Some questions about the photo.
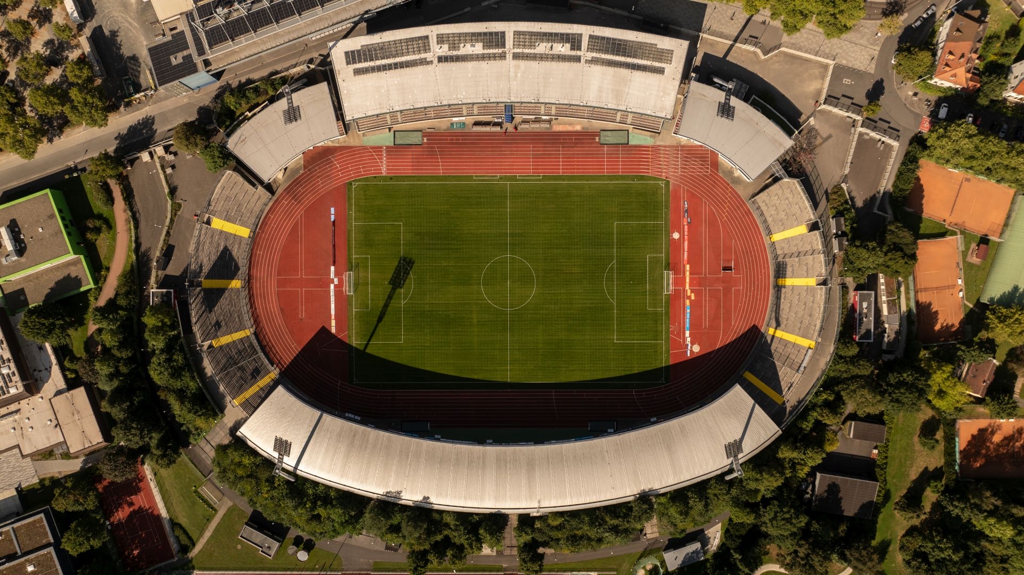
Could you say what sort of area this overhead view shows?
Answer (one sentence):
This image shows a sports ground.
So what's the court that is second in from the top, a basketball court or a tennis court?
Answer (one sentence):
What you see as the court that is second in from the top is a tennis court.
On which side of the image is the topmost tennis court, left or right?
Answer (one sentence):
You can find the topmost tennis court on the right side of the picture.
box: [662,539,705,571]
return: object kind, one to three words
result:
shed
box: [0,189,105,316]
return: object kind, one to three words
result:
building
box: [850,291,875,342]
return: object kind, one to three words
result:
building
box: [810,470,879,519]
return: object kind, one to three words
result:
shed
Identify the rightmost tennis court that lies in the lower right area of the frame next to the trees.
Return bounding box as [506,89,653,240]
[957,419,1024,478]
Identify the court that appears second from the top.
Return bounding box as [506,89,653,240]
[915,237,964,344]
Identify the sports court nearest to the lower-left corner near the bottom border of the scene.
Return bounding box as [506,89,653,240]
[98,462,180,575]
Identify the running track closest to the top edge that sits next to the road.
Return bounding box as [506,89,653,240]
[246,131,771,440]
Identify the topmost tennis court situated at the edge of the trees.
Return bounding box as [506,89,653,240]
[910,160,1015,235]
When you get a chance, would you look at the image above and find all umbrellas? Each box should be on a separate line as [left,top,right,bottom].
[288,546,298,555]
[297,551,308,561]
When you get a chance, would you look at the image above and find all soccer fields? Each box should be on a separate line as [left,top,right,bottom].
[348,175,670,389]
